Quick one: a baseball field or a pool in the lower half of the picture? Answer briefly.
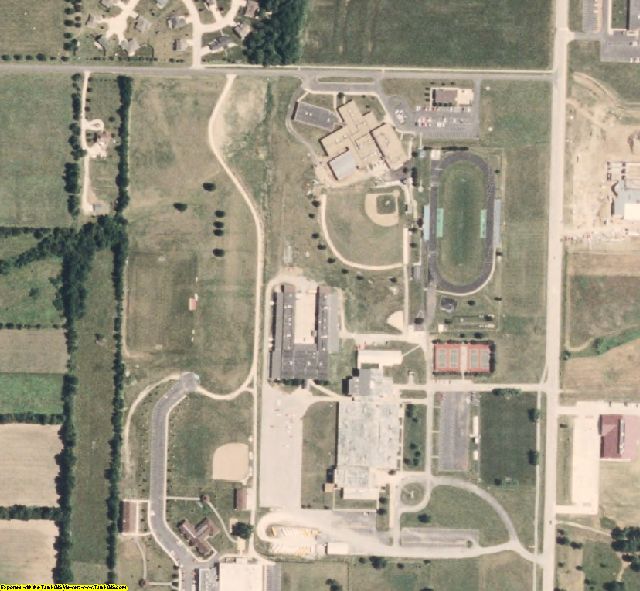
baseball field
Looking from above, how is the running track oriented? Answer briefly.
from top to bottom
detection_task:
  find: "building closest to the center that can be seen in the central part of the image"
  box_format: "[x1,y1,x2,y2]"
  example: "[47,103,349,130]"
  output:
[276,284,339,380]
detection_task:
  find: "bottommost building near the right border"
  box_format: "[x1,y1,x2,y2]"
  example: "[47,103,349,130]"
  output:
[601,415,640,459]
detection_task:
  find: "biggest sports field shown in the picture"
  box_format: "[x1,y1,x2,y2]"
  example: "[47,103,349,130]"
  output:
[437,158,488,285]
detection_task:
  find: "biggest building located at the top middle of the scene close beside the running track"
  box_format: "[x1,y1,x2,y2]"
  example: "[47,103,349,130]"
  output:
[319,99,408,179]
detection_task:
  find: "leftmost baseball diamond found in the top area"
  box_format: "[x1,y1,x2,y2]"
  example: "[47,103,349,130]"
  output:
[321,190,403,270]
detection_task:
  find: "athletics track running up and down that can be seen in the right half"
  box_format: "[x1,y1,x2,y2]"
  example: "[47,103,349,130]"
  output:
[428,151,496,292]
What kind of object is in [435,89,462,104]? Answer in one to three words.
building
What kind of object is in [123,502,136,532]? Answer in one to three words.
building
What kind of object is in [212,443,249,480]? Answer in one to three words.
baseball field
